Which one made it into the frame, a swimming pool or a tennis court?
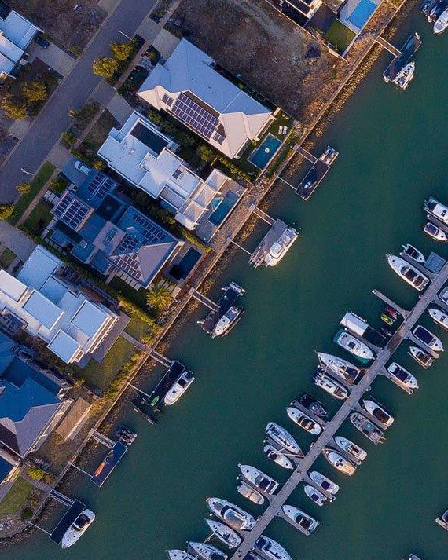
swimming pool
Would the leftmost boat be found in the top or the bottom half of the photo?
bottom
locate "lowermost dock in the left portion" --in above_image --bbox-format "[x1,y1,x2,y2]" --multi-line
[28,485,86,544]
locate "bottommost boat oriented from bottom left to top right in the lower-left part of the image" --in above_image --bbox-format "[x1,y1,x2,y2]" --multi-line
[63,505,99,549]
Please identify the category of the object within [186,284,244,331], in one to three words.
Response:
pier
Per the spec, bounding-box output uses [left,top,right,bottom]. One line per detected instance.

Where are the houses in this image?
[0,332,94,459]
[275,0,350,23]
[137,38,283,162]
[0,245,133,365]
[98,110,235,231]
[0,10,46,87]
[52,169,187,292]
